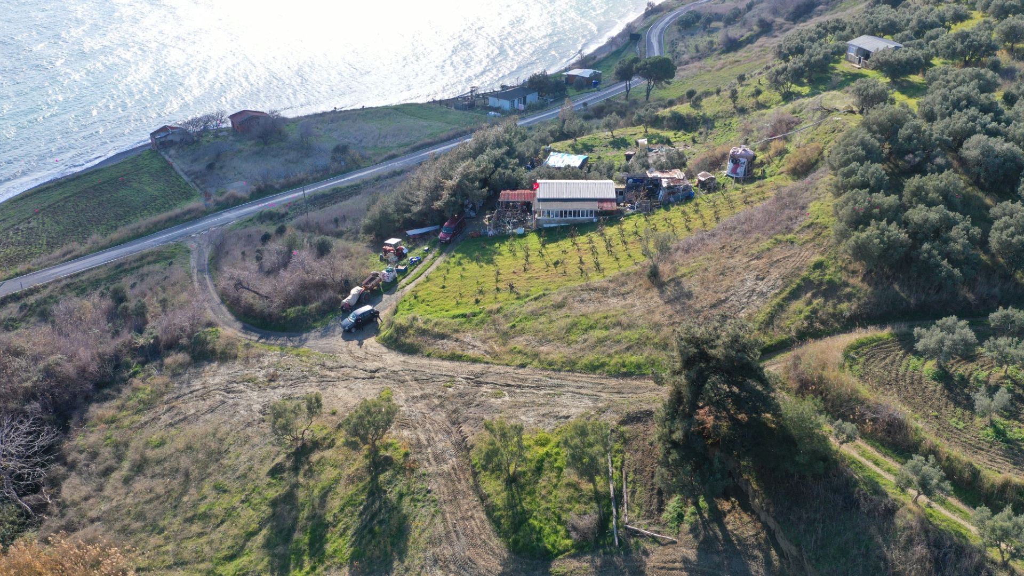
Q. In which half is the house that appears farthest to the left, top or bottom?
top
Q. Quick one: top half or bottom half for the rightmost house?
top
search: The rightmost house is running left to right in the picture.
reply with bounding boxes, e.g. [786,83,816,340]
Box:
[844,39,902,59]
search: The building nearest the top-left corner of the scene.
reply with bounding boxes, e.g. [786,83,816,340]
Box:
[146,125,187,150]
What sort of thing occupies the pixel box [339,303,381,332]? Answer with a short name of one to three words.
car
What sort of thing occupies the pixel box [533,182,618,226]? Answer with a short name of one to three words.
house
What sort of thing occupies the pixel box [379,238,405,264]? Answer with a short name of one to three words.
work vehicle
